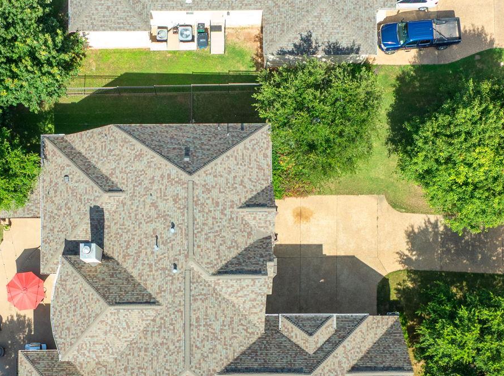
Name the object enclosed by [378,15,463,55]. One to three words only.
truck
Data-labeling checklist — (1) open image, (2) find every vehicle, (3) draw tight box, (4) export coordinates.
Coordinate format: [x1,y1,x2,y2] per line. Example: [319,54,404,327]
[378,15,463,55]
[396,0,441,14]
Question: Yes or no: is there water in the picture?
No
